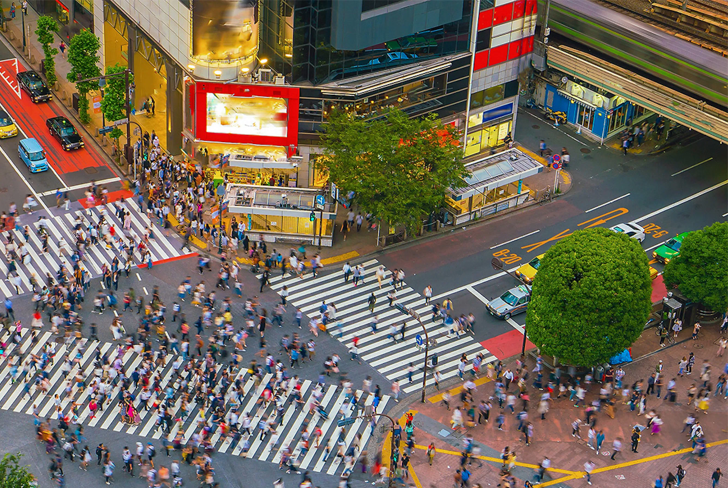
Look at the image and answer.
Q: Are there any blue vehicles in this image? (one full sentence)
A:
Yes, a blue vehicle appears in the view.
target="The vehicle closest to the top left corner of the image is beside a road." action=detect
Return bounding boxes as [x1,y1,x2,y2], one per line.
[16,70,53,103]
